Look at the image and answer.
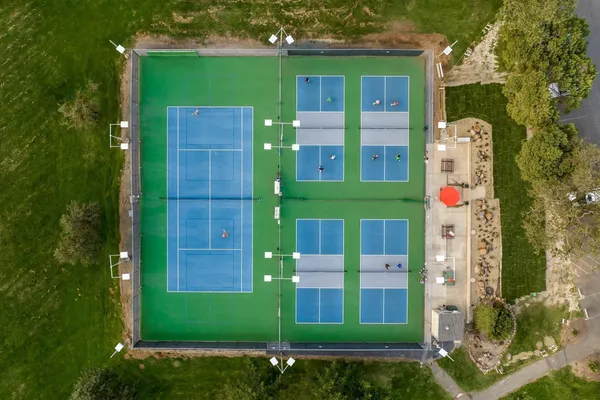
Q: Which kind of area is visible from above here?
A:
sports ground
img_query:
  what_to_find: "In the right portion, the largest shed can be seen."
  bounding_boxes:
[432,309,468,343]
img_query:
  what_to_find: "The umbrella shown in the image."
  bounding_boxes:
[439,186,459,206]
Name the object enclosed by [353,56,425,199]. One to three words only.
sports court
